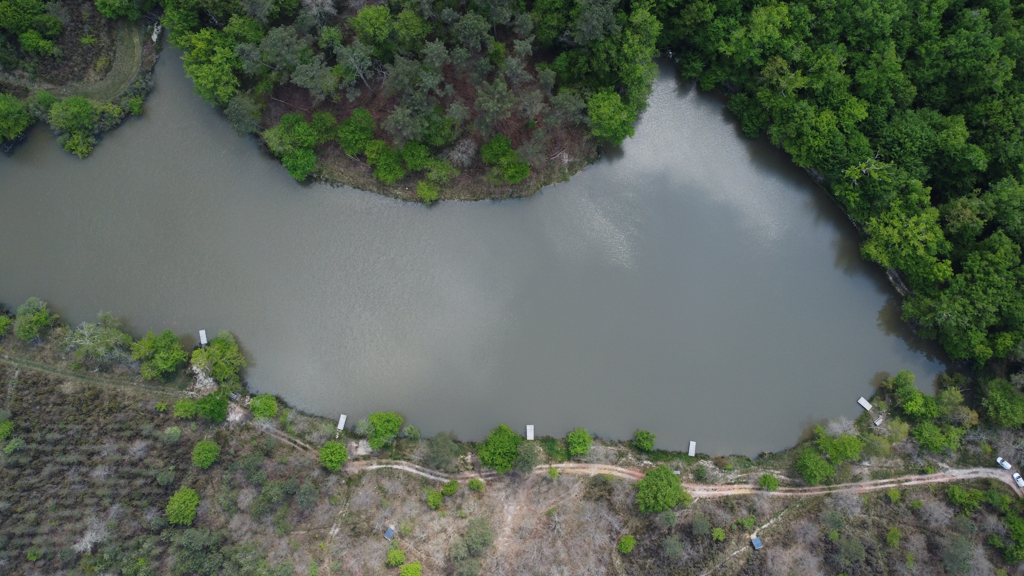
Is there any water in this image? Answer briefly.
Yes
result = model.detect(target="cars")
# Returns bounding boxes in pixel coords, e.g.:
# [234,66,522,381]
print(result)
[1013,473,1024,489]
[998,457,1015,471]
